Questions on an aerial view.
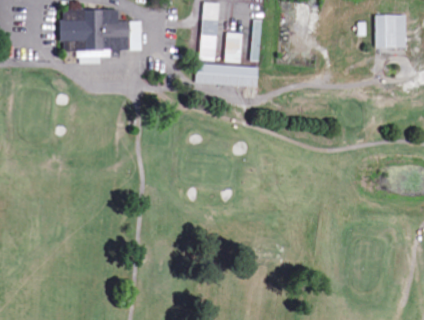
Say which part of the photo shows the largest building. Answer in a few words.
top left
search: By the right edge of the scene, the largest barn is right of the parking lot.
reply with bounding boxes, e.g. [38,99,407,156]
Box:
[374,14,406,50]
